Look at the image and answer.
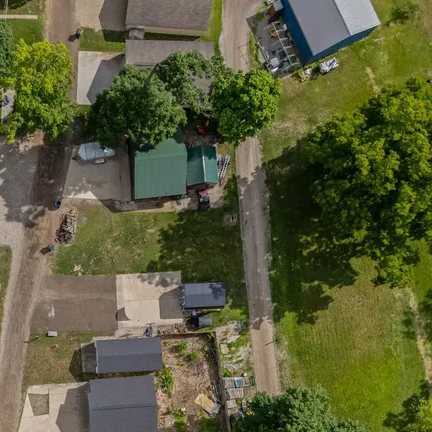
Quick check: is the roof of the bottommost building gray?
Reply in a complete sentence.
Yes, the roof of the bottommost building appears gray.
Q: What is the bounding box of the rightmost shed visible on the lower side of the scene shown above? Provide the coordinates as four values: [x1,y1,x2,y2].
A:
[181,282,226,310]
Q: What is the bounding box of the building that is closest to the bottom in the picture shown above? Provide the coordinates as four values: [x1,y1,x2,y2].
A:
[89,376,157,432]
